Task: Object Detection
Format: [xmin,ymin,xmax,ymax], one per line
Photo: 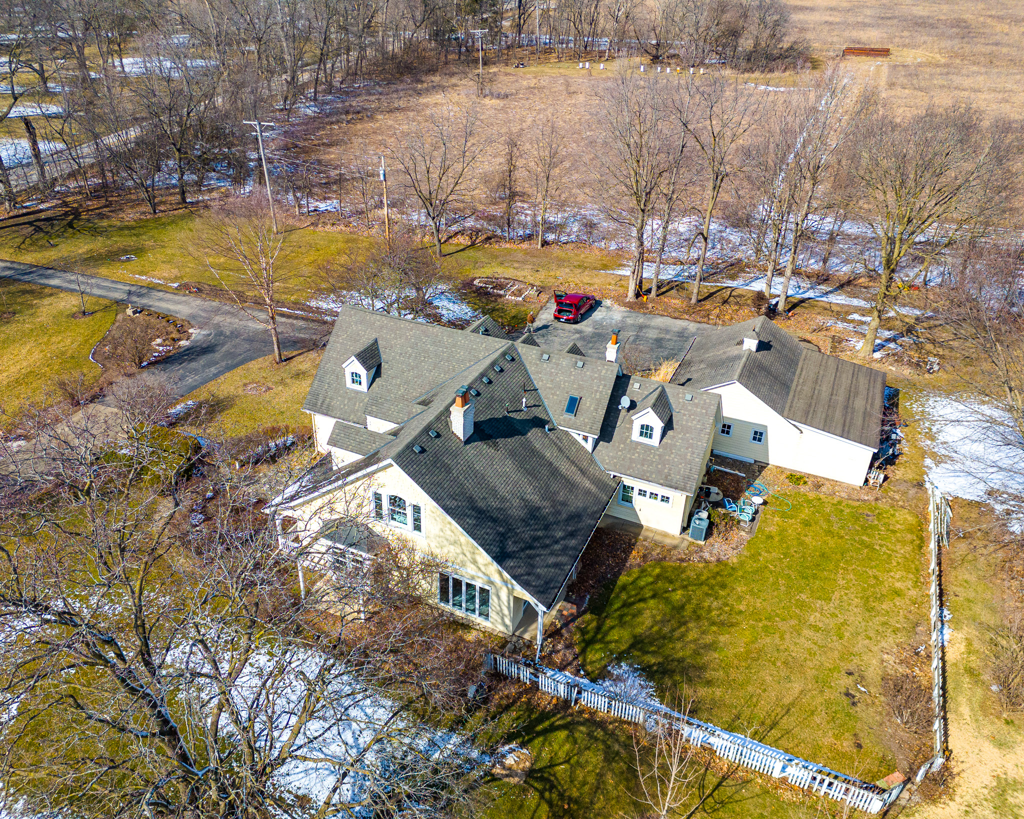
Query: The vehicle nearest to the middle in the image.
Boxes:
[554,289,597,323]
